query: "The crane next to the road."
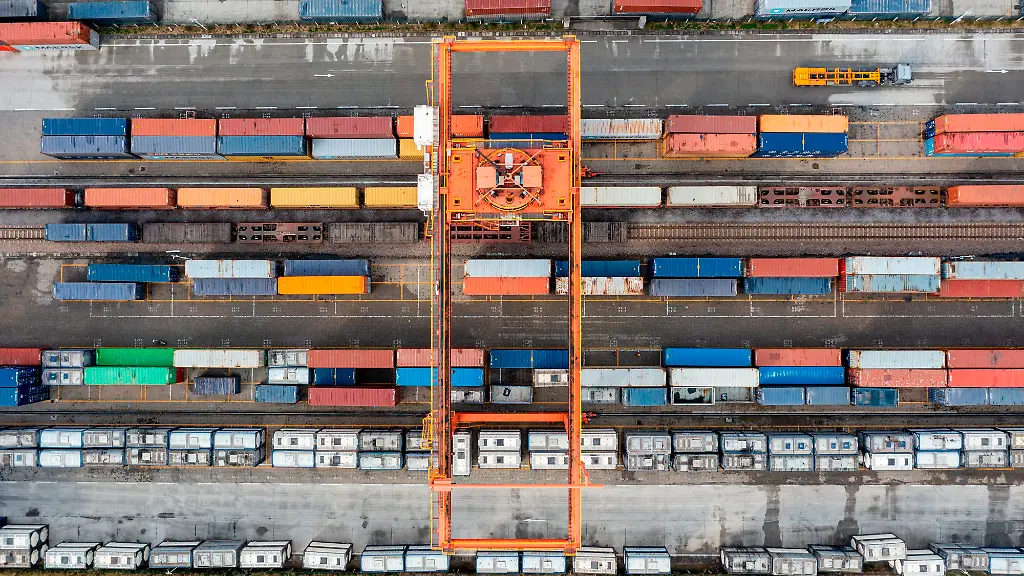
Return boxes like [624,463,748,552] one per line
[414,33,604,556]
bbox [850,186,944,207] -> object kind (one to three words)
rail car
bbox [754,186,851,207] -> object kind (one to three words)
rail car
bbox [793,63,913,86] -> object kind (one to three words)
truck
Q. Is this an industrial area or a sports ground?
industrial area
